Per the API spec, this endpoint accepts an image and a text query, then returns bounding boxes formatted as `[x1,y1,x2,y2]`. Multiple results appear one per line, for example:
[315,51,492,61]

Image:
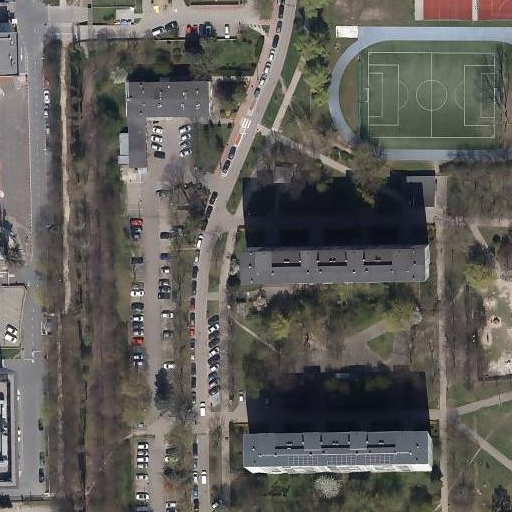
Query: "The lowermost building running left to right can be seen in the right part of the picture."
[244,431,431,472]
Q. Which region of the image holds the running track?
top right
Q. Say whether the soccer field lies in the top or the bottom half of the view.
top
